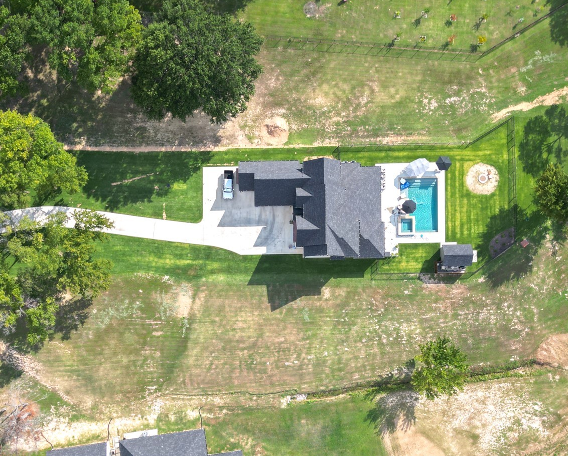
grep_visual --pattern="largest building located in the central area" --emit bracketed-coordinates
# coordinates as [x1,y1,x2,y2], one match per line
[237,157,387,261]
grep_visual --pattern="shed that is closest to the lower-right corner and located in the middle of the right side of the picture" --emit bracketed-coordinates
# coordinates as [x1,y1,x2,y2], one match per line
[441,245,474,266]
